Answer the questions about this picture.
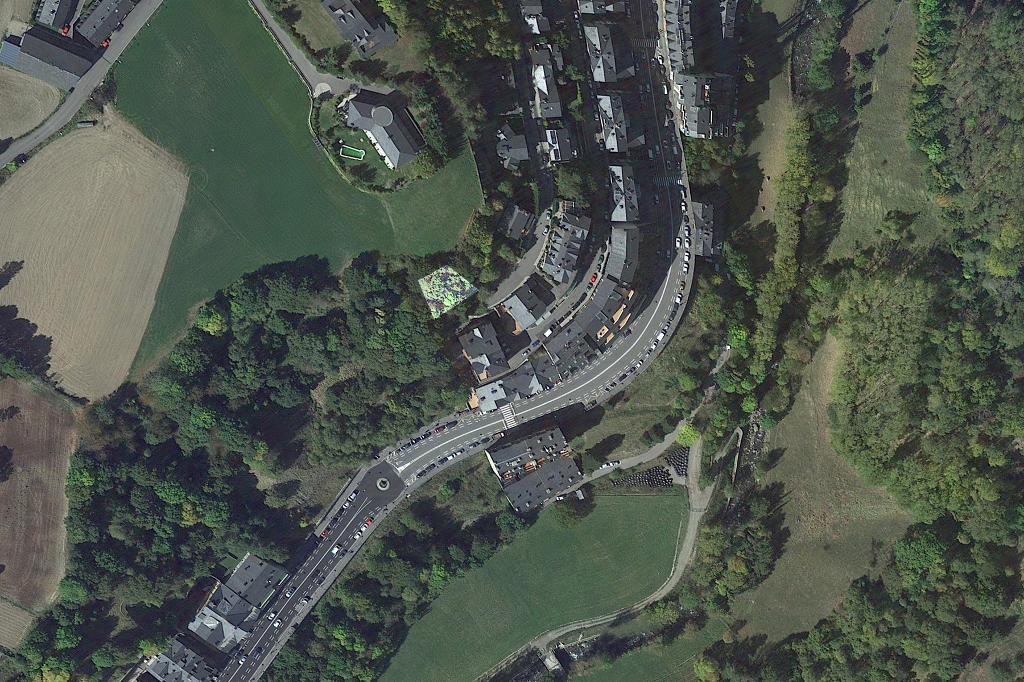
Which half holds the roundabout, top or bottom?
bottom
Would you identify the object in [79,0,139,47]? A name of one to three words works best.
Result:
house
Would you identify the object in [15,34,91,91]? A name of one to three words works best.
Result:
barn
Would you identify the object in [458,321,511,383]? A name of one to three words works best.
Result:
house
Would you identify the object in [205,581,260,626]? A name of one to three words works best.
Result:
building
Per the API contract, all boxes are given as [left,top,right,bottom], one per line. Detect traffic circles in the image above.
[354,461,406,509]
